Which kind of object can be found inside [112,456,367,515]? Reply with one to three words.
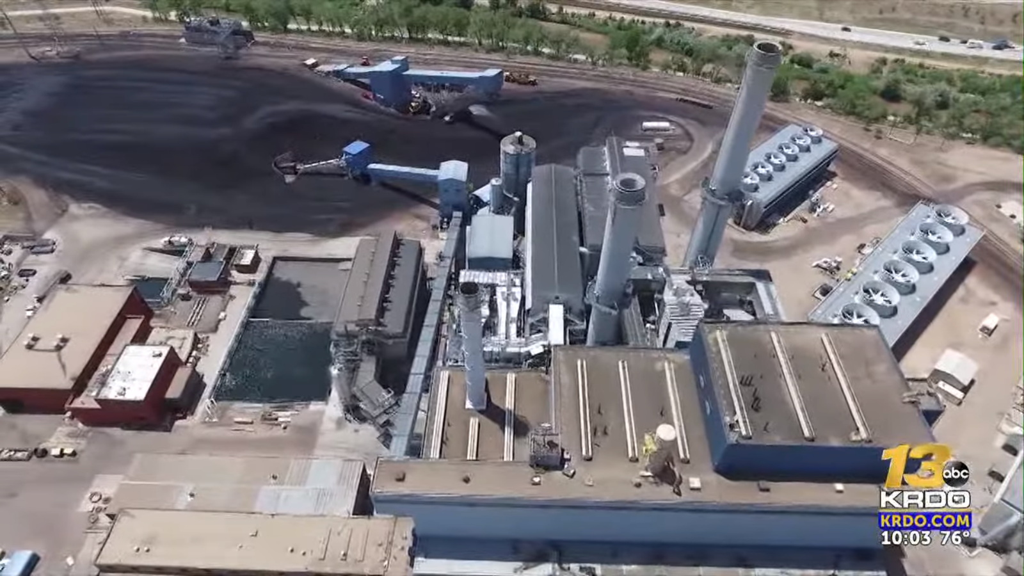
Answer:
building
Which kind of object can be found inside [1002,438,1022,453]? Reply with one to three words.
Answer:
car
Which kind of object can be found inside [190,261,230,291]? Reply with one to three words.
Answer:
shed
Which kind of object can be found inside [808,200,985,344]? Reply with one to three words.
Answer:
cooling tower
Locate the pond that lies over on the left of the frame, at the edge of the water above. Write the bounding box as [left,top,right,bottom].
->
[208,256,355,412]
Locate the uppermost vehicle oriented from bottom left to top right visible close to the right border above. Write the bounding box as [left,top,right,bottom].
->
[981,310,1003,334]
